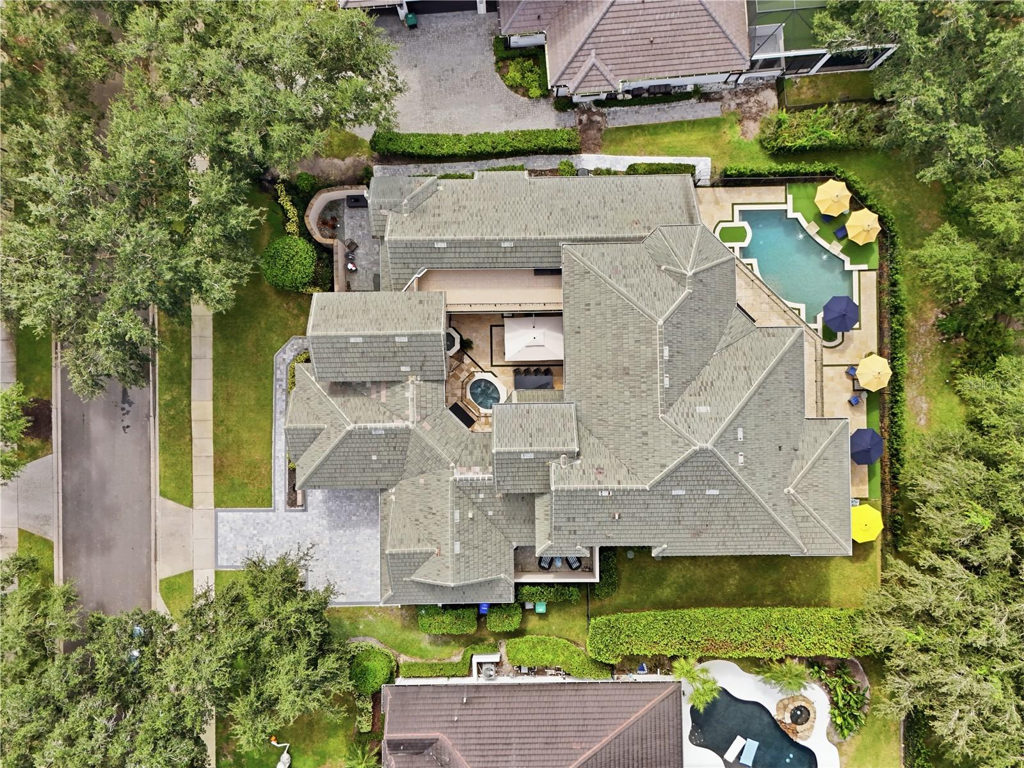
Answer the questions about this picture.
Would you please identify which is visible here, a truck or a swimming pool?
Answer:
swimming pool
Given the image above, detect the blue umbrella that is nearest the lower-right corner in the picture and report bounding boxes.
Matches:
[851,429,883,464]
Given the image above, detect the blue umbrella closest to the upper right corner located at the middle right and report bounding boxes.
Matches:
[823,296,858,331]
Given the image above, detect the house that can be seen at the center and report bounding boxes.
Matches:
[284,169,853,606]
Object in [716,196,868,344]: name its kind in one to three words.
swimming pool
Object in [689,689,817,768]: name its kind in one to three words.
swimming pool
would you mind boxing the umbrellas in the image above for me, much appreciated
[851,429,883,464]
[813,179,851,217]
[852,502,885,544]
[844,209,882,245]
[854,353,893,392]
[504,304,563,359]
[823,296,858,331]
